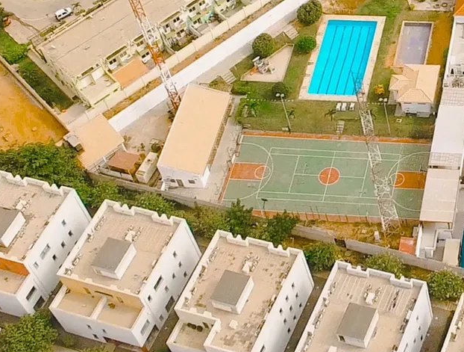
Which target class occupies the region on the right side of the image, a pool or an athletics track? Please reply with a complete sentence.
There is a pool on the right side of the image.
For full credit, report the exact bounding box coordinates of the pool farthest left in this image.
[304,17,380,97]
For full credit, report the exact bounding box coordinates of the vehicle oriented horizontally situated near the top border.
[49,7,77,22]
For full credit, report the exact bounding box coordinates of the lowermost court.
[222,134,434,216]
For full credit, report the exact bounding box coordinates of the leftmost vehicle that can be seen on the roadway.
[0,15,17,30]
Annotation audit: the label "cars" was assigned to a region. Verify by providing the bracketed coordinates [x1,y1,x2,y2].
[49,7,77,22]
[0,15,17,30]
